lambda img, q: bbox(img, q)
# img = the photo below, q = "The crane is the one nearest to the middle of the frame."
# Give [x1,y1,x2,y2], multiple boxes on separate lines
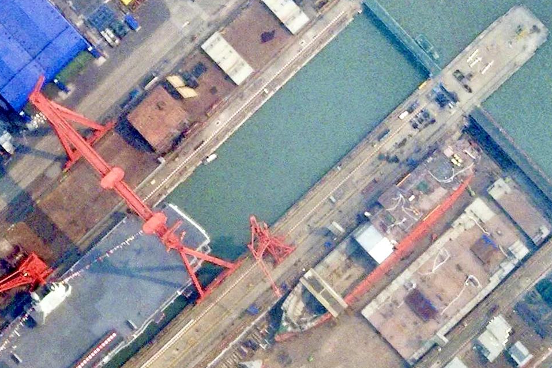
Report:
[248,217,294,302]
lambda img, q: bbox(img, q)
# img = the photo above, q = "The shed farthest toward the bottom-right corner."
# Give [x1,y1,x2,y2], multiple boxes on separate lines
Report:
[508,342,534,366]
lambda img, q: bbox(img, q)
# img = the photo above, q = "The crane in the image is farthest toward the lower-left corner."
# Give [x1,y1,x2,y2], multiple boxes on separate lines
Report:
[0,251,57,292]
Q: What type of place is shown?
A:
port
